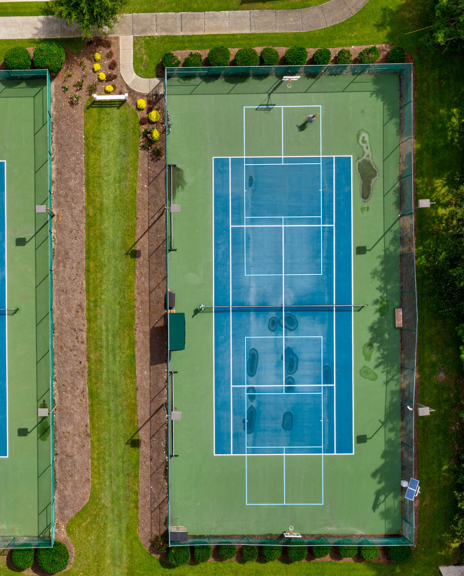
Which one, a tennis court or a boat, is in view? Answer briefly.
tennis court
